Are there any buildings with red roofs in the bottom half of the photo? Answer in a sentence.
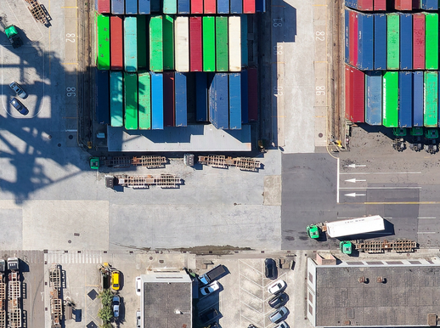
No, I can find no building with a red roof in the bottom half of the photo.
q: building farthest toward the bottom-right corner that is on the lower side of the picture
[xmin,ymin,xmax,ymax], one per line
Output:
[305,246,440,326]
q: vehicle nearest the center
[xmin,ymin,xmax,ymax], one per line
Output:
[182,154,253,168]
